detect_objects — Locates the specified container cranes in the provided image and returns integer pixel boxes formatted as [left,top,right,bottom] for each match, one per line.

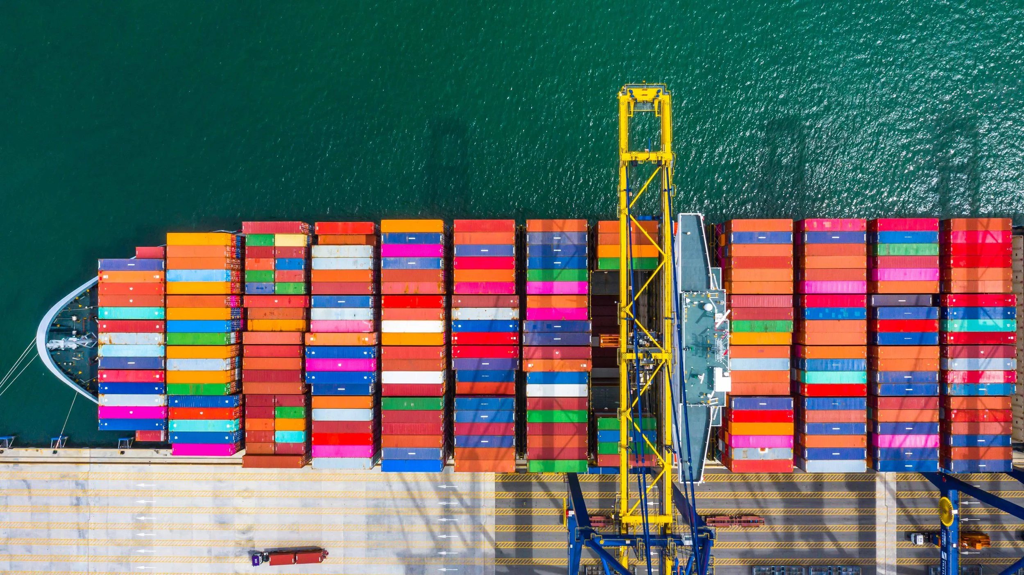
[903,462,1024,575]
[558,72,731,575]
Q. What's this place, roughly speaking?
port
